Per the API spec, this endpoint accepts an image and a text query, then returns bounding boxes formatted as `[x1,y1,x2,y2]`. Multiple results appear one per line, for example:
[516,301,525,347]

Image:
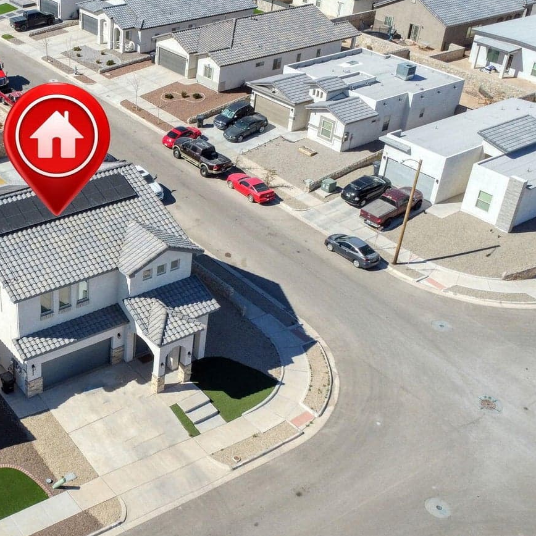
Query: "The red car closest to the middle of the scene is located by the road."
[226,174,281,205]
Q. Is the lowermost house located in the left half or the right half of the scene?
left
